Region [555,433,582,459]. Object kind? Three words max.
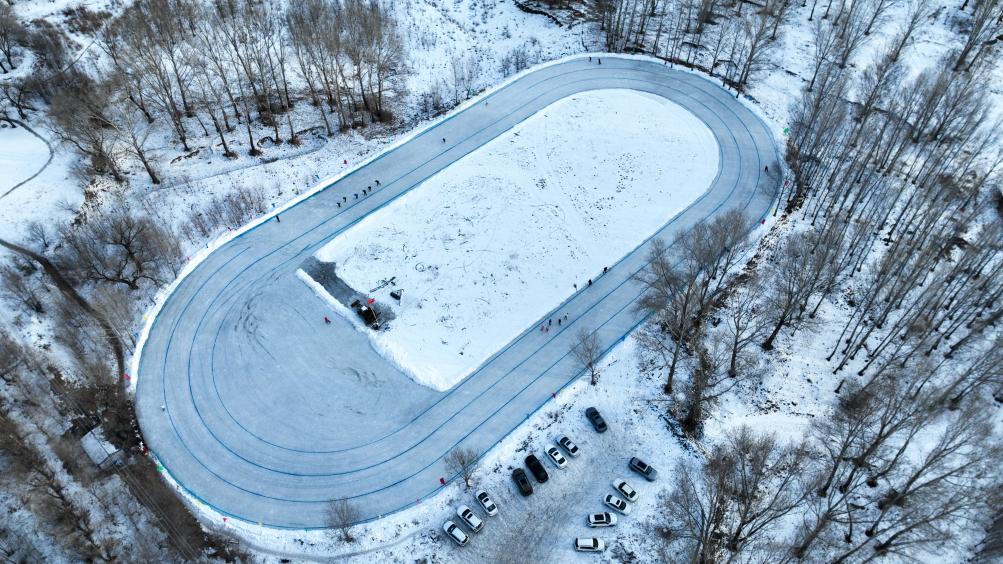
car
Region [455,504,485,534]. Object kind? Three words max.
car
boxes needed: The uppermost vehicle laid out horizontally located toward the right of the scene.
[586,511,619,528]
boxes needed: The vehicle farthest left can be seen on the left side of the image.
[351,300,379,329]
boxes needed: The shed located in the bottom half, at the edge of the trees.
[84,428,124,469]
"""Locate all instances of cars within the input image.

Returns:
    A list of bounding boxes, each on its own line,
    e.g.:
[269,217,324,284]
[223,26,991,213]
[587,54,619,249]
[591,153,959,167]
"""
[474,489,501,519]
[585,406,609,434]
[573,536,606,552]
[601,490,633,518]
[586,511,619,528]
[544,443,570,471]
[555,433,582,459]
[629,454,658,483]
[441,520,471,548]
[525,454,550,484]
[455,504,485,534]
[611,477,642,504]
[511,467,535,497]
